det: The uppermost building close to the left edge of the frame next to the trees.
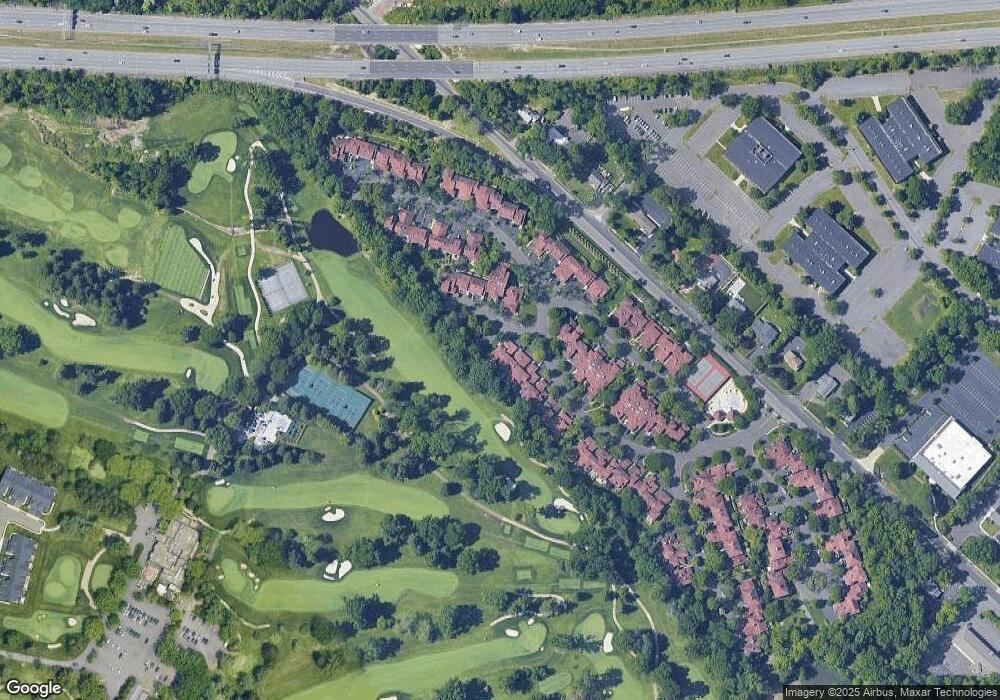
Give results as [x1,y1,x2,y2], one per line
[0,465,58,516]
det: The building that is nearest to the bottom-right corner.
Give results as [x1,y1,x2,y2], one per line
[959,632,1000,681]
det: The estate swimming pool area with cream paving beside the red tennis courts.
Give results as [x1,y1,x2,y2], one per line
[704,378,747,419]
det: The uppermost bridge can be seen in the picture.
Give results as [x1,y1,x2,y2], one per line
[335,23,438,43]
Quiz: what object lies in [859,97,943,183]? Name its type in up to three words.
building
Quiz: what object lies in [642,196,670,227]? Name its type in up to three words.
house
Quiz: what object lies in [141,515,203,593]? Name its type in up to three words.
building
